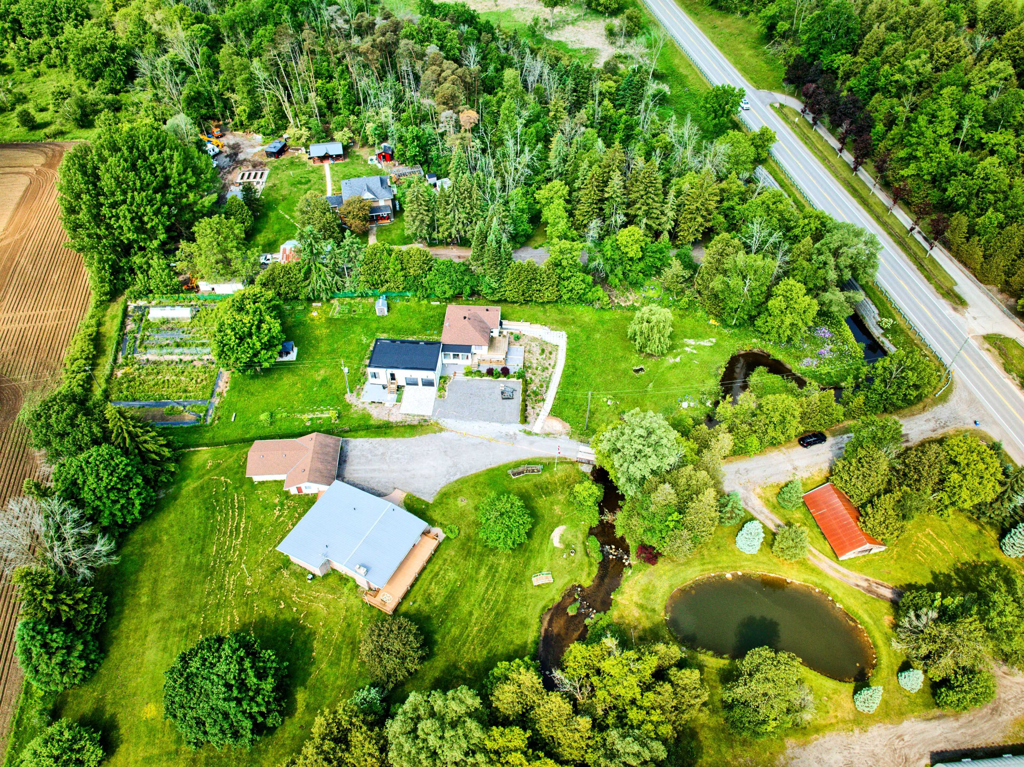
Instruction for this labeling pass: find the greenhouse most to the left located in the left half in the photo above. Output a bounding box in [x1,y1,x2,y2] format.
[145,306,195,324]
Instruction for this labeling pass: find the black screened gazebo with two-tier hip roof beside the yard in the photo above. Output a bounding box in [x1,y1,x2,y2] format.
[264,140,287,161]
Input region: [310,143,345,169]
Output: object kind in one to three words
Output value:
building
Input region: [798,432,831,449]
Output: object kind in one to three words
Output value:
car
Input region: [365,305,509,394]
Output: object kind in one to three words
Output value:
house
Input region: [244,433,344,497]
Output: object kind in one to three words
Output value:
building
